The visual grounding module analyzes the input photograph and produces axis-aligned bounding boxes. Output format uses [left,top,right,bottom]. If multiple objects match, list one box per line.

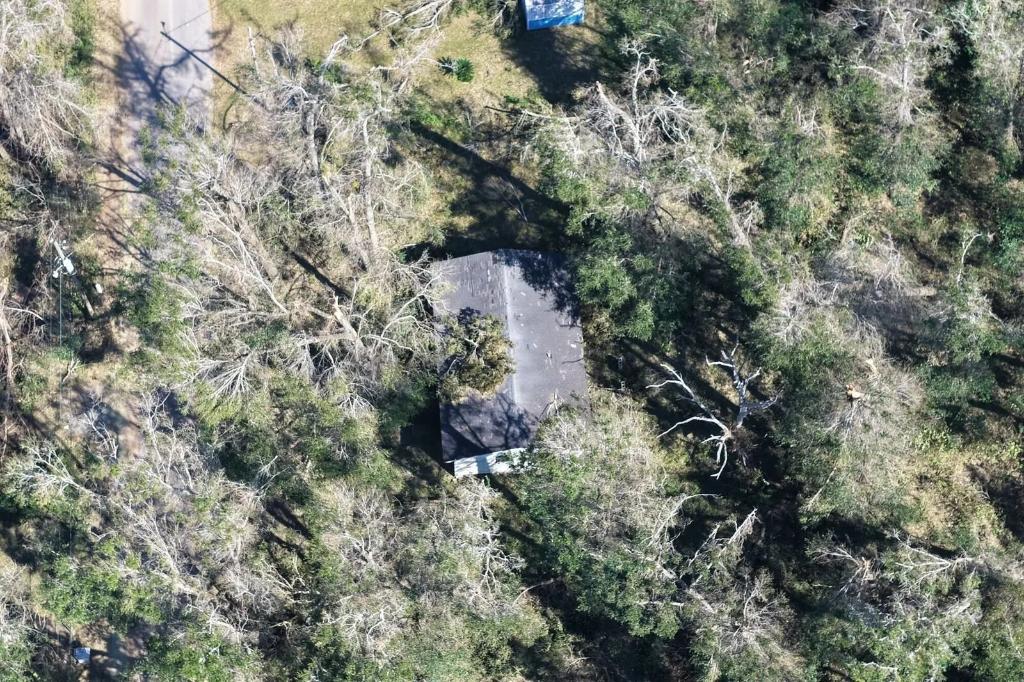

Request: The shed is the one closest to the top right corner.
[522,0,586,33]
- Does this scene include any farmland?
No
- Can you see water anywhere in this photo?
No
